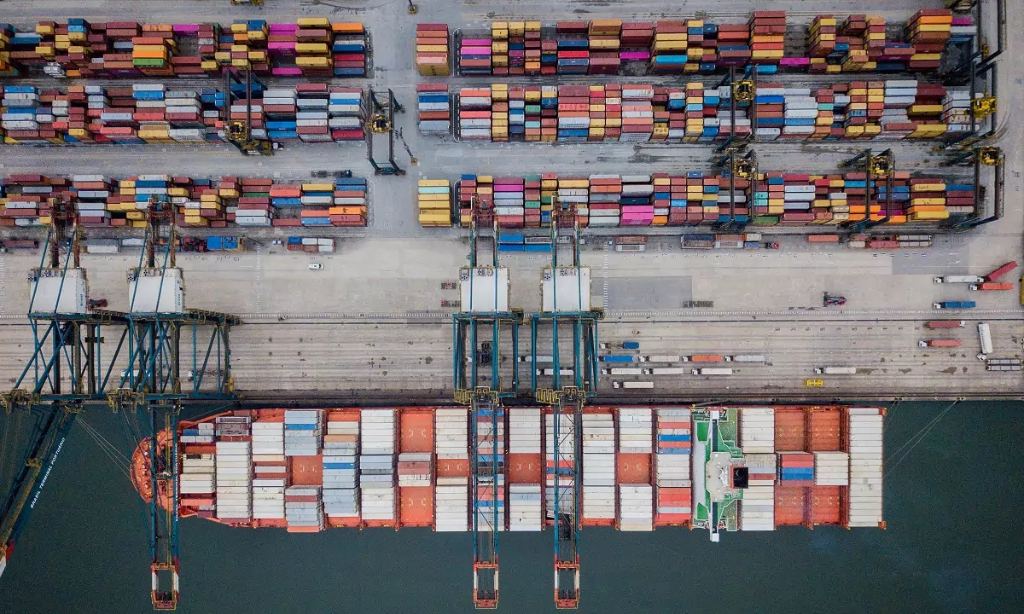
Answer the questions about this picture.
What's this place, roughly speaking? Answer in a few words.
port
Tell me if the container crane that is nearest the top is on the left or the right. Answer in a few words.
right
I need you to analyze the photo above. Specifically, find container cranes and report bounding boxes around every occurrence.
[530,199,606,610]
[713,149,758,230]
[368,88,406,173]
[451,199,524,610]
[223,70,272,156]
[942,0,1005,73]
[103,199,246,610]
[937,64,1000,151]
[713,66,758,152]
[0,199,151,563]
[941,144,1004,227]
[839,147,893,228]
